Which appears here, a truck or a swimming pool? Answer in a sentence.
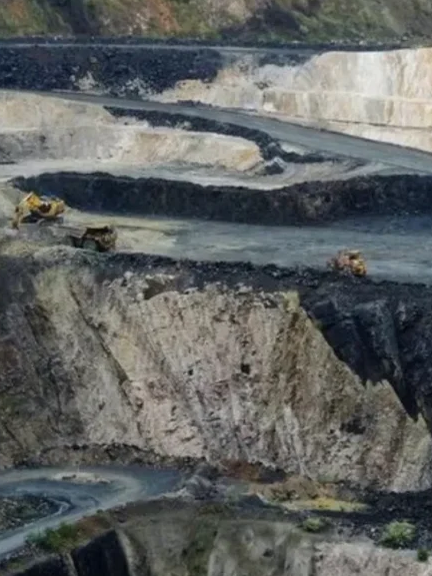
I can see a truck in this picture.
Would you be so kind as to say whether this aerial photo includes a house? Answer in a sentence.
No, the frame has no house in it.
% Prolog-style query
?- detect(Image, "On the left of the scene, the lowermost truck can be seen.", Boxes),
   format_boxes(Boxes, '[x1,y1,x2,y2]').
[68,223,116,255]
